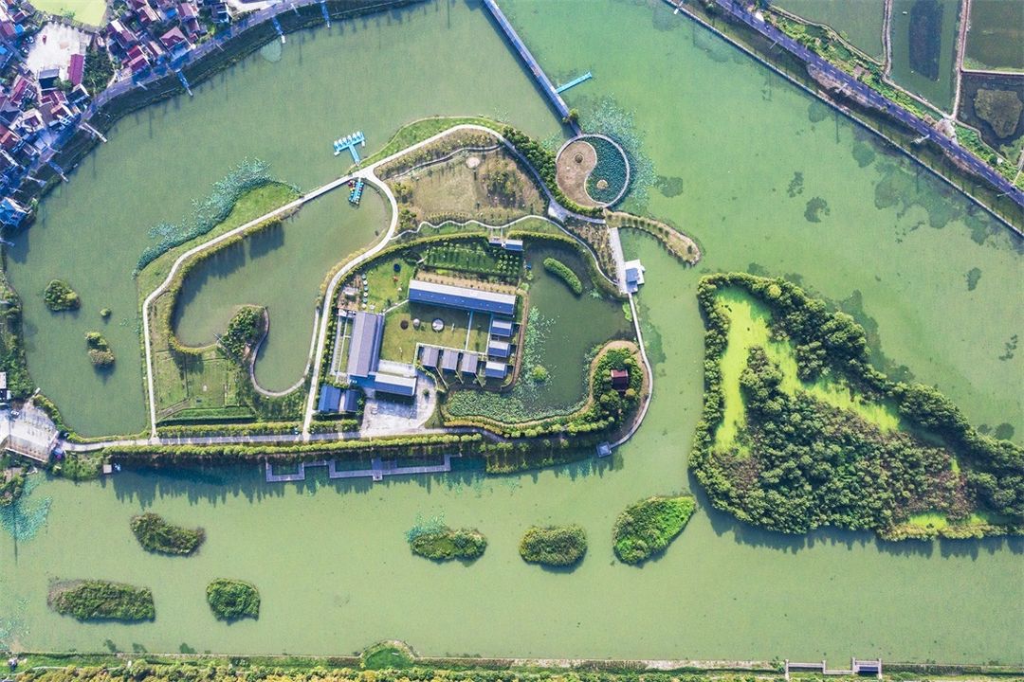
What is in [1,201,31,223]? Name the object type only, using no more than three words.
house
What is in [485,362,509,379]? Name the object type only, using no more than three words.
house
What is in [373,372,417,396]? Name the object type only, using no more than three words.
building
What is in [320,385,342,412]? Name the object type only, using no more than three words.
building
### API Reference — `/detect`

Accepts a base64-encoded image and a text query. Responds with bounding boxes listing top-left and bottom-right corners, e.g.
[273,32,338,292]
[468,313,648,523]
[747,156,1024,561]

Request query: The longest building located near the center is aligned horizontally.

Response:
[409,281,516,317]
